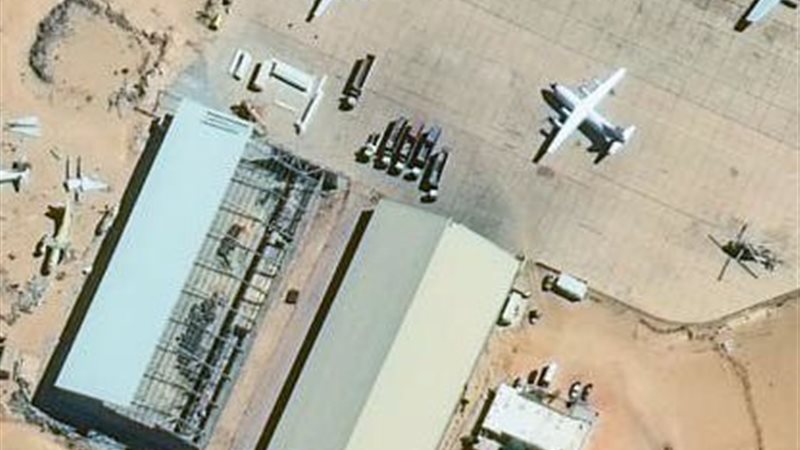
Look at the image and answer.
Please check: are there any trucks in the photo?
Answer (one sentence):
Yes, a truck can be made out from above.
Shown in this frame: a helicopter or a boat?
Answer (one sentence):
It is a helicopter that can be seen here.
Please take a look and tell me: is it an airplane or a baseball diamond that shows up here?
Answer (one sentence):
The image shows an airplane.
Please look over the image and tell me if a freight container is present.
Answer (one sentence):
Yes, the image includes a freight container.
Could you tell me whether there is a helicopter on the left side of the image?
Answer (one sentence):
No, I see no helicopter on the left side of the image.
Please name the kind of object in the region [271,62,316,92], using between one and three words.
shipping container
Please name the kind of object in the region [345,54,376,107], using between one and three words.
truck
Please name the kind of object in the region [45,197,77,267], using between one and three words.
airplane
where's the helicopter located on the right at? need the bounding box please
[723,218,786,276]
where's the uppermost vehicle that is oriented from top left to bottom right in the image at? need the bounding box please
[202,8,220,29]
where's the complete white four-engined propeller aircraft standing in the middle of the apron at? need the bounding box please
[548,68,638,156]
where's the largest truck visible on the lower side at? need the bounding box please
[545,277,589,298]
